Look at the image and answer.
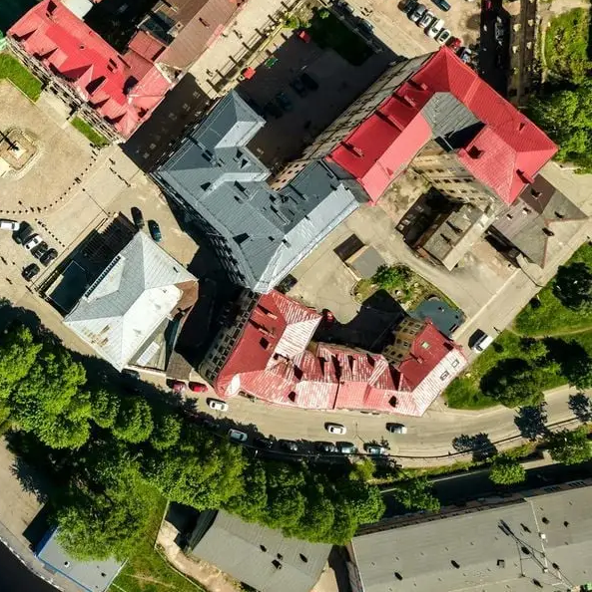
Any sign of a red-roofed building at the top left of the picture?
Yes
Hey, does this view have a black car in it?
Yes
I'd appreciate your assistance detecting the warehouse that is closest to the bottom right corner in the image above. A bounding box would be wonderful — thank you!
[350,474,592,592]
